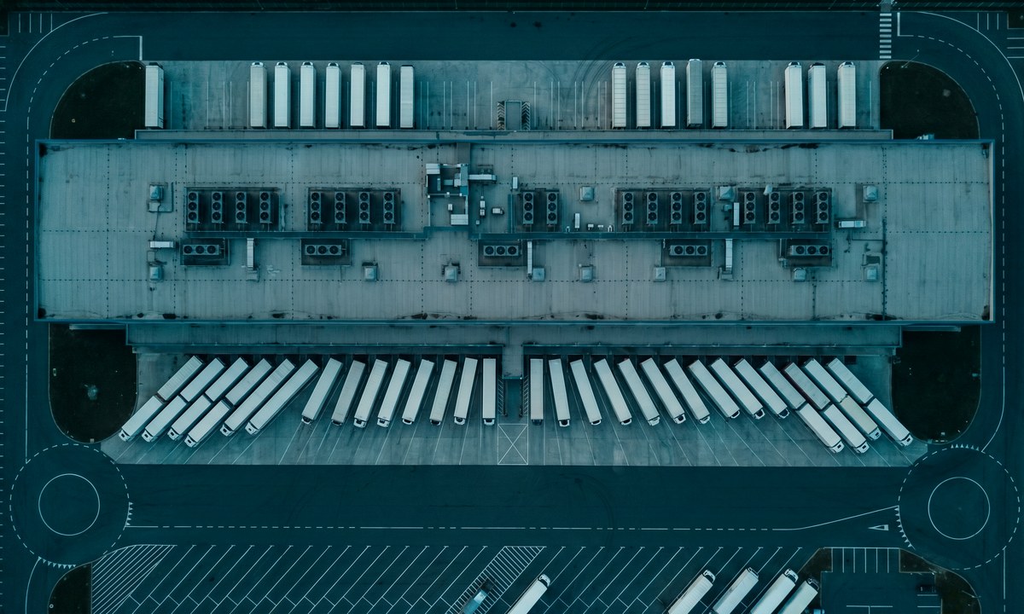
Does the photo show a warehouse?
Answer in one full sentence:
Yes, a warehouse appears in the view.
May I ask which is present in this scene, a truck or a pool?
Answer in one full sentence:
Looking from above, you can make out a truck.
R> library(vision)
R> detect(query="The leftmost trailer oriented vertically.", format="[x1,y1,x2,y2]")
[146,63,165,129]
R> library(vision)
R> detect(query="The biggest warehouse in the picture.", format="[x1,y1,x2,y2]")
[35,126,995,378]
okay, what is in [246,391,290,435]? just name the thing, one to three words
truck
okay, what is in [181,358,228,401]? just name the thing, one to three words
trailer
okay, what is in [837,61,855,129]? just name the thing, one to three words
vehicle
